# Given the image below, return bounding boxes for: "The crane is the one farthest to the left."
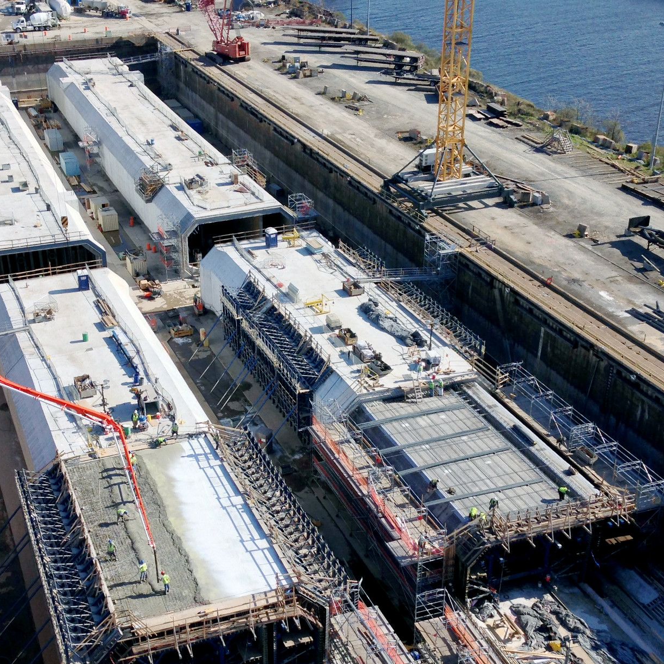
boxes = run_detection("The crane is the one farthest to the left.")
[209,0,255,60]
